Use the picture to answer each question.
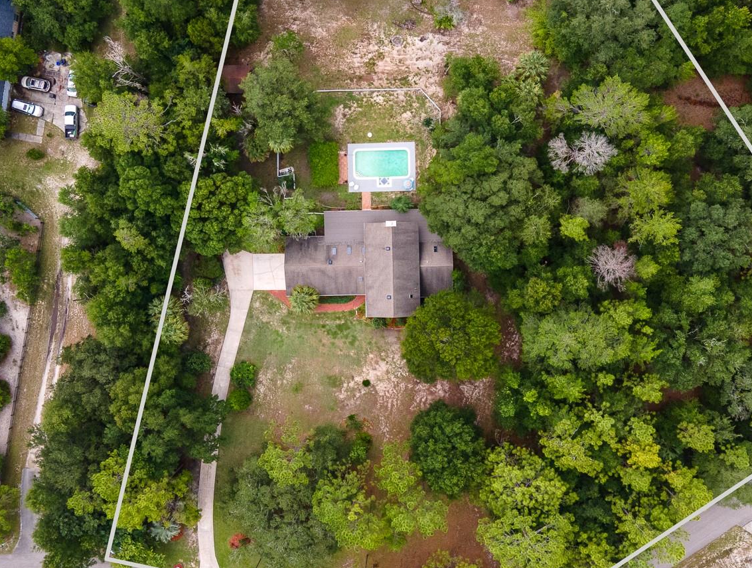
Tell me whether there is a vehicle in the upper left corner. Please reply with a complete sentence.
Yes, a vehicle can be seen in the upper left corner.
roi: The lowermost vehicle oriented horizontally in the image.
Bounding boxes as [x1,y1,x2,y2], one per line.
[11,100,45,117]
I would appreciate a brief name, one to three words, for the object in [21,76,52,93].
car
